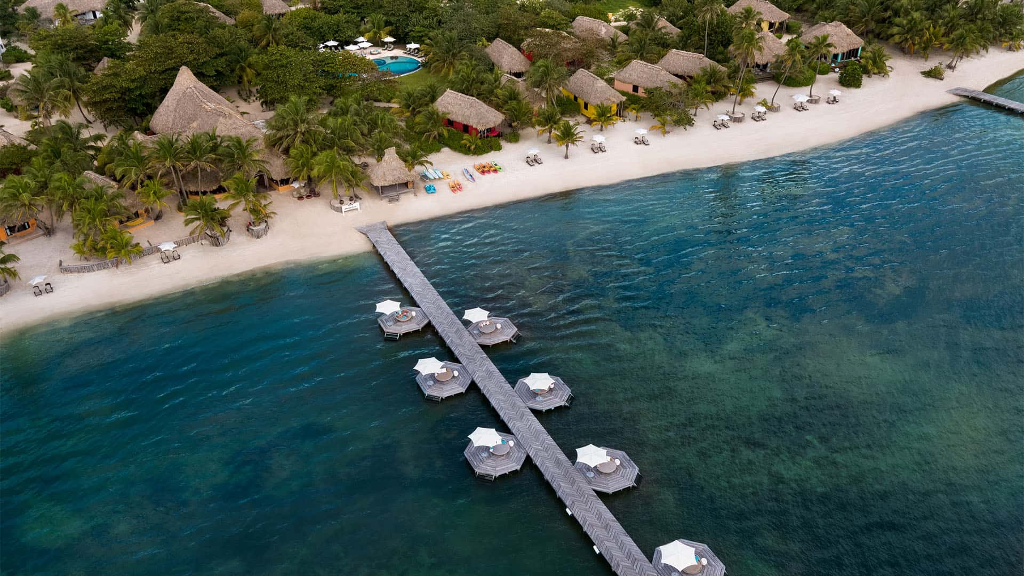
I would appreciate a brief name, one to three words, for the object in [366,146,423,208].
shed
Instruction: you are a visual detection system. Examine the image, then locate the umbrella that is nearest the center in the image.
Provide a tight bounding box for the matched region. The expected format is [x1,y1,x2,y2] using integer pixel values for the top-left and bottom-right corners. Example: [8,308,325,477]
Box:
[461,308,489,325]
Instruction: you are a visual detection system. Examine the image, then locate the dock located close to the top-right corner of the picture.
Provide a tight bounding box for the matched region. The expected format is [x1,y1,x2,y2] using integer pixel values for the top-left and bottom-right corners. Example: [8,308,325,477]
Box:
[943,88,1024,117]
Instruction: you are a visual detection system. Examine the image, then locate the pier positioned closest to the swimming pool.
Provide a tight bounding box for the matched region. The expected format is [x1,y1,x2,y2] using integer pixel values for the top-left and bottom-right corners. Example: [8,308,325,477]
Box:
[354,222,661,576]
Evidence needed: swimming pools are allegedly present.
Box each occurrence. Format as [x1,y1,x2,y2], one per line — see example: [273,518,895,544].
[334,56,423,80]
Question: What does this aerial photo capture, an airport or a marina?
marina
